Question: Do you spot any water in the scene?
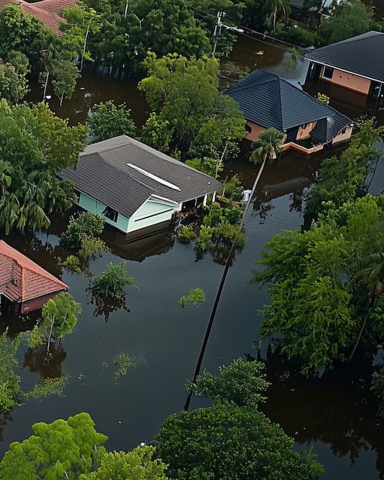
Yes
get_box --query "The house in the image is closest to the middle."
[58,133,223,235]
